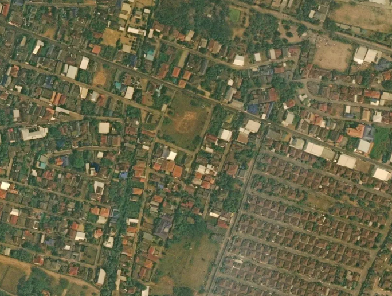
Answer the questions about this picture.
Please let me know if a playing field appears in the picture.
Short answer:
Yes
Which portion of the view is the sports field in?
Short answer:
center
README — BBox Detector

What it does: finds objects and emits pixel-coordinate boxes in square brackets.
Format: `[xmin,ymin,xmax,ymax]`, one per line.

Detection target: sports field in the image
[158,94,210,148]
